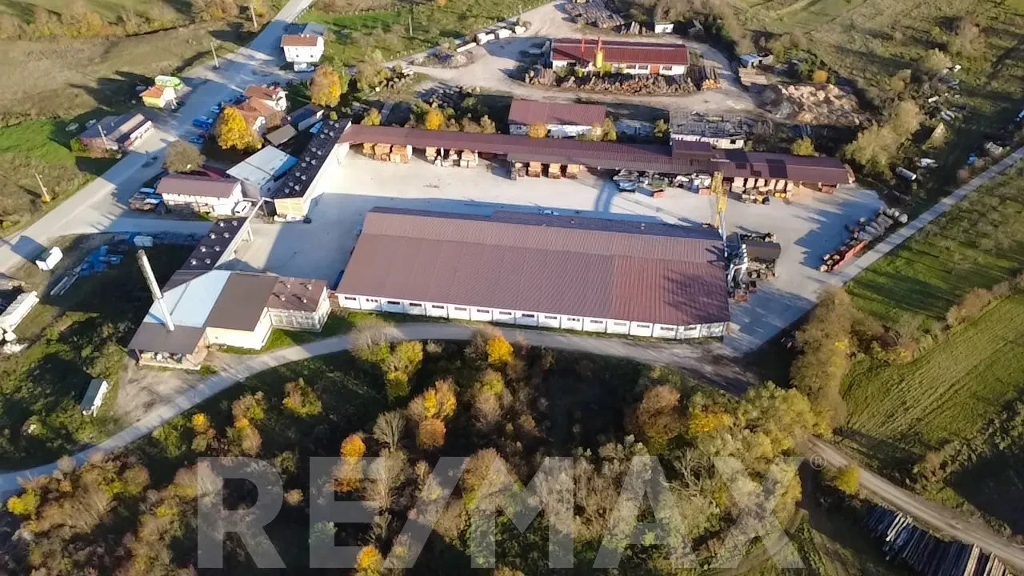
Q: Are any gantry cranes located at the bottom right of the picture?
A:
No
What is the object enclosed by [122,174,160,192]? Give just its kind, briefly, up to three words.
vehicle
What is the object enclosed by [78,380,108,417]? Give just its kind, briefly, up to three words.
shed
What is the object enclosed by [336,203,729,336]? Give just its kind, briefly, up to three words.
building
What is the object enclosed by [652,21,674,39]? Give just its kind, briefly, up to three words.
shed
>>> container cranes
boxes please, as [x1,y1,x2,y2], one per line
[702,173,727,234]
